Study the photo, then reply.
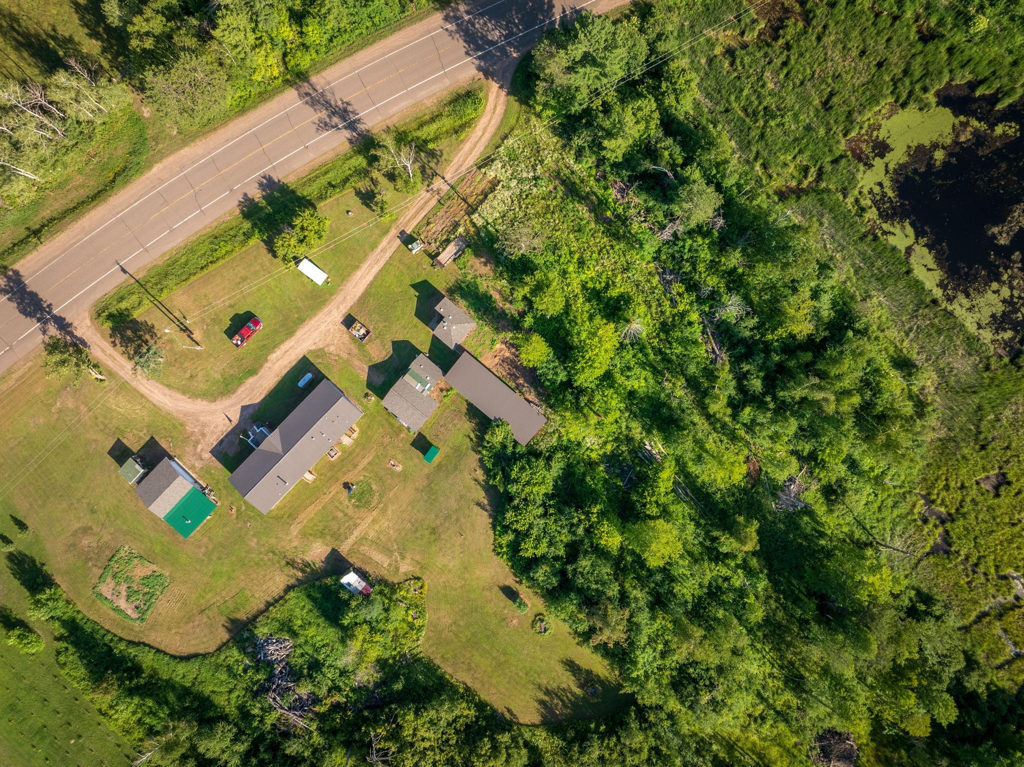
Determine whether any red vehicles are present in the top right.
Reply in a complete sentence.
No, no red vehicle appears in the top right.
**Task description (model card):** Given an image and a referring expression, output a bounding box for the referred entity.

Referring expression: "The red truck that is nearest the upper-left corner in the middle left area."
[230,317,265,349]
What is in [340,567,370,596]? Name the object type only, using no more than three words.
truck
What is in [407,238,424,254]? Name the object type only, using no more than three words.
vehicle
